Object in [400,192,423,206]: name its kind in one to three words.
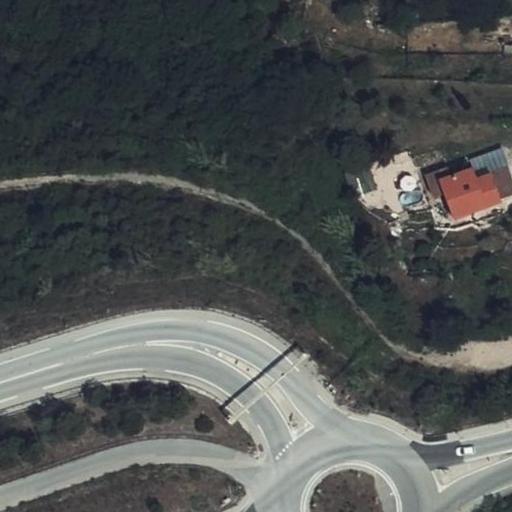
swimming pool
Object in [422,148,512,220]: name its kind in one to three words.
house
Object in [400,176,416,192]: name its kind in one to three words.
umbrella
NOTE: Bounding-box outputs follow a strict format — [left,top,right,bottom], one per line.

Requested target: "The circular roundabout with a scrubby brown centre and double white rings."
[224,378,450,512]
